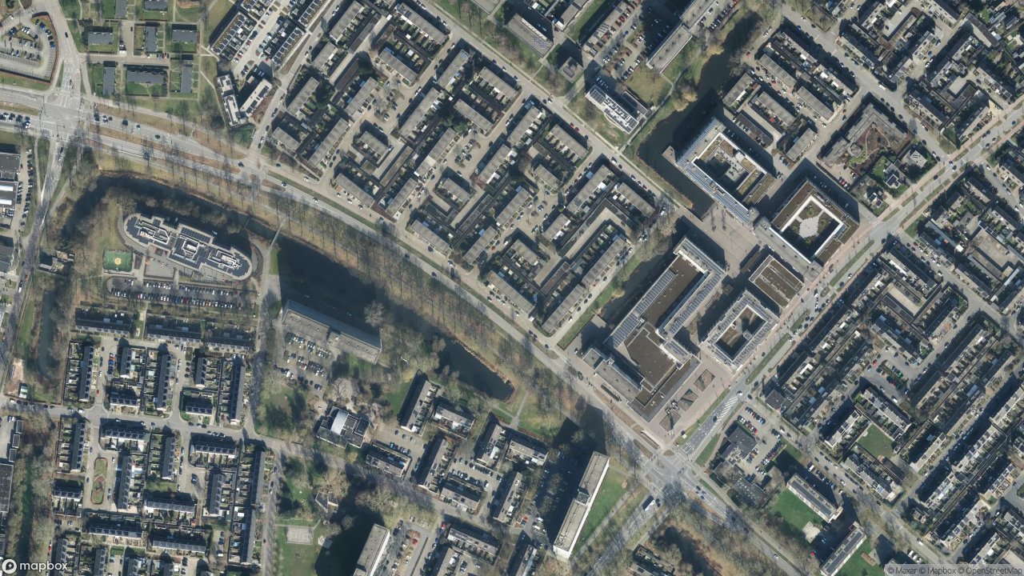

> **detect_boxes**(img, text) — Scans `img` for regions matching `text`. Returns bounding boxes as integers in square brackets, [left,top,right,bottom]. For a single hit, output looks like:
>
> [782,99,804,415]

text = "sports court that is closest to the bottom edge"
[286,527,313,544]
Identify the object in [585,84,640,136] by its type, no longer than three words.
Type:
building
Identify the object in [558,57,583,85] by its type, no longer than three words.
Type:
building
